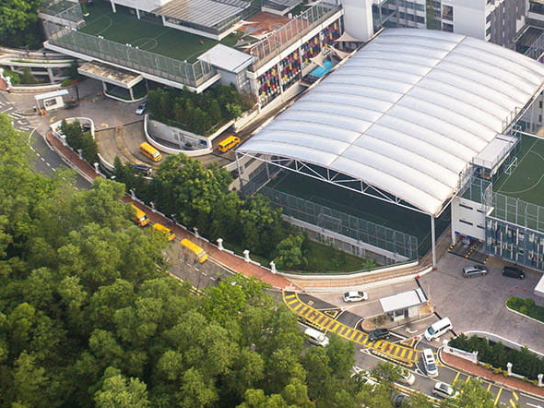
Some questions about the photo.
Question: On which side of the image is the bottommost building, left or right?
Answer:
right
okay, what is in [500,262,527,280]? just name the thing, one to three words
car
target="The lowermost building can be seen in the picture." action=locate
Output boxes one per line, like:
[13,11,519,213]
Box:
[369,289,431,325]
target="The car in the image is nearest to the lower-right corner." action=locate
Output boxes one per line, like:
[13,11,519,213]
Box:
[430,381,459,399]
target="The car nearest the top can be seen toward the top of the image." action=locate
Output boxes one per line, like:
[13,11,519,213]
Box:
[135,101,148,114]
